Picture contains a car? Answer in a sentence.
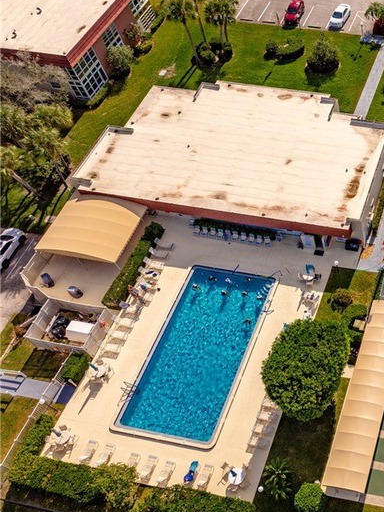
Yes, I can see a car in this picture.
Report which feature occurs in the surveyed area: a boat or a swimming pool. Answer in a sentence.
There is a swimming pool in the scene.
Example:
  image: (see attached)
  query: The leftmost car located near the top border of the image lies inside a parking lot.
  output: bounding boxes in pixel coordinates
[283,2,305,25]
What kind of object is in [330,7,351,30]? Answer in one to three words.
car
